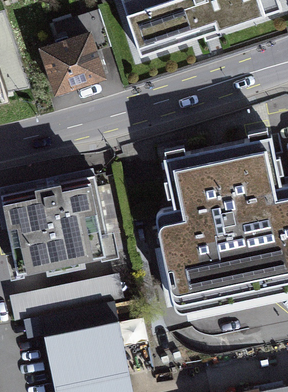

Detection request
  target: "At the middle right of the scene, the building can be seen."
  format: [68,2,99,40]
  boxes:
[156,130,288,322]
